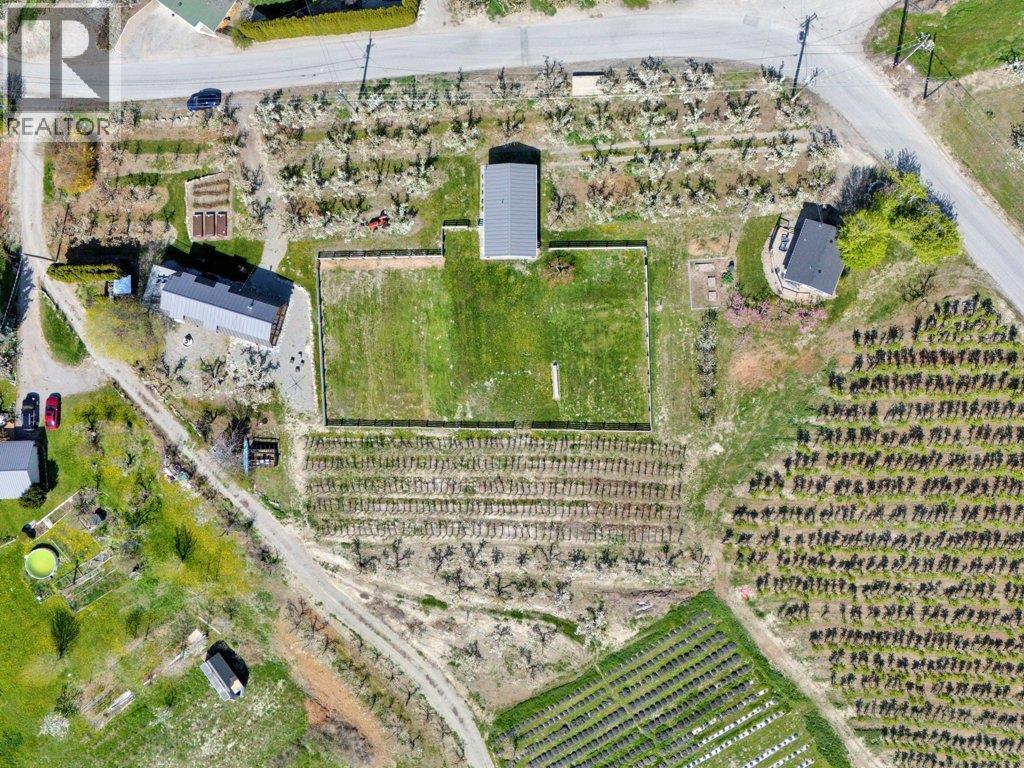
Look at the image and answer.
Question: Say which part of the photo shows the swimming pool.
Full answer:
Look in the bottom left portion of the view to spot the swimming pool.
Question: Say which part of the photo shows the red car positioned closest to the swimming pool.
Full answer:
You can find the red car positioned closest to the swimming pool in the left area of the picture.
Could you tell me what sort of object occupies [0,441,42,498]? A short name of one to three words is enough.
shed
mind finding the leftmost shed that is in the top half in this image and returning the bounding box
[113,276,141,295]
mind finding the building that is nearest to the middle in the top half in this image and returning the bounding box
[485,162,537,256]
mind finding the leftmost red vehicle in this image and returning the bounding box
[46,394,66,428]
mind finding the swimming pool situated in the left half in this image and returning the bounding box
[26,545,61,578]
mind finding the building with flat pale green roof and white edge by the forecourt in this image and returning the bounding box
[158,0,256,46]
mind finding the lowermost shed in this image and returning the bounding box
[201,648,250,700]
